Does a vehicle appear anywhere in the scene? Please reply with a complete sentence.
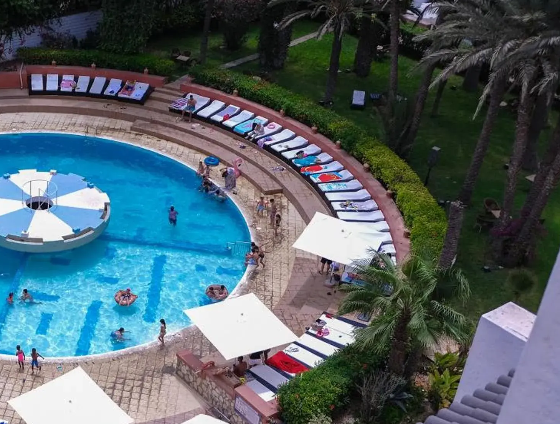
No, I can see no vehicle in this picture.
